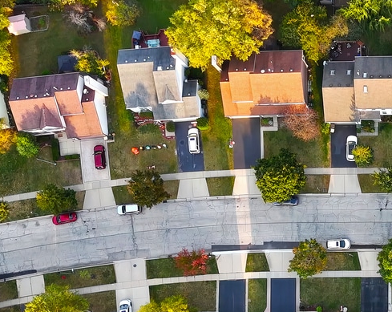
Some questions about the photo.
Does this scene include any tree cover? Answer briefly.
Yes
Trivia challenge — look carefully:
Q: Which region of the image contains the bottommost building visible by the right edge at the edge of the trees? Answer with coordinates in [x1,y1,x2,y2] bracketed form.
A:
[320,56,392,124]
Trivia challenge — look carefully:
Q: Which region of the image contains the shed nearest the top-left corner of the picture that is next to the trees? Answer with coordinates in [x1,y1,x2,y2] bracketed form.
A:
[6,14,35,37]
